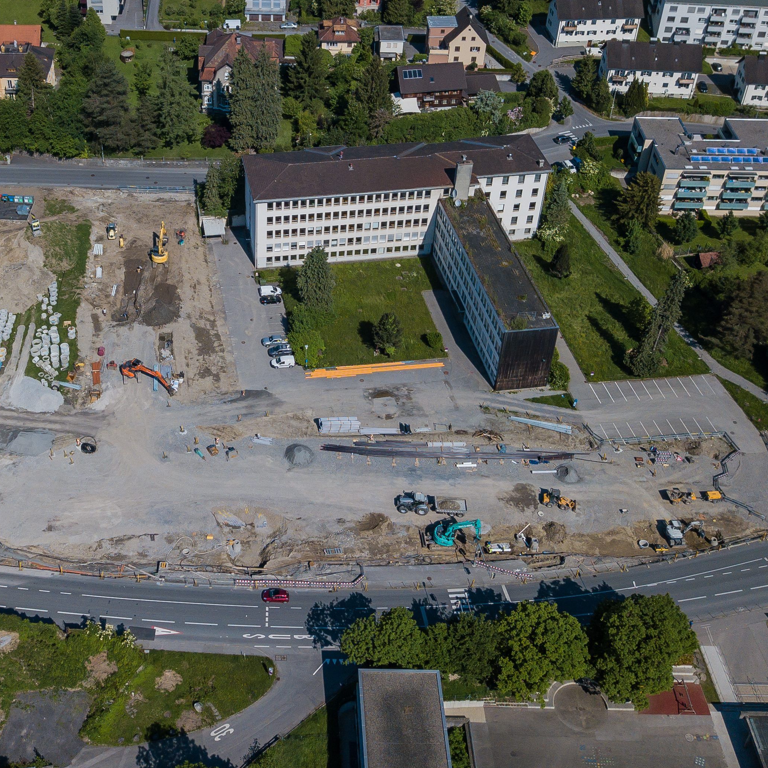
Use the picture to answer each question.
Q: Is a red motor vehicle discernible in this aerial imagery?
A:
Yes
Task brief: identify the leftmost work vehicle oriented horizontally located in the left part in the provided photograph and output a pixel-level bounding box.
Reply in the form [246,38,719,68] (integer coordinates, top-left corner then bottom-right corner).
[120,356,180,392]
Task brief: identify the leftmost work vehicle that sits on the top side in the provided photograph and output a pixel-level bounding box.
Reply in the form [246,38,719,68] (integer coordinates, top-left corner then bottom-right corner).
[105,223,118,243]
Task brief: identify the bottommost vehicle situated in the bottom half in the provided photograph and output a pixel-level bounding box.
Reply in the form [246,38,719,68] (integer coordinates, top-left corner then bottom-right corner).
[261,588,290,604]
